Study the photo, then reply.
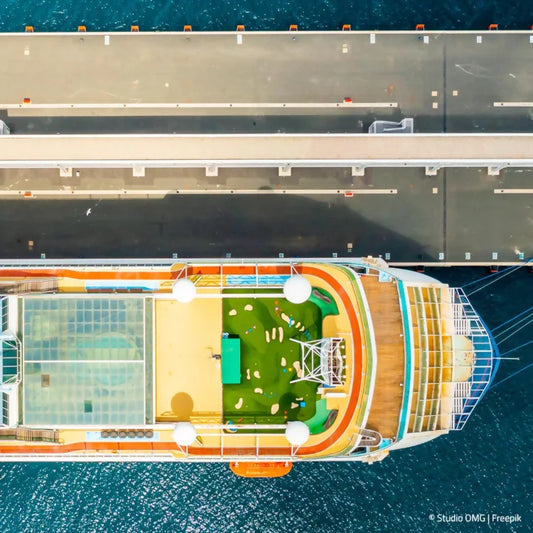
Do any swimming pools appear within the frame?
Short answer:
Yes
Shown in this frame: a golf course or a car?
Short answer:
golf course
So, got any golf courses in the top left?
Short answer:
No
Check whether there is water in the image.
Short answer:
Yes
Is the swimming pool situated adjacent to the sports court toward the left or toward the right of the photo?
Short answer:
left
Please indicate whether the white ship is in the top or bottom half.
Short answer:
bottom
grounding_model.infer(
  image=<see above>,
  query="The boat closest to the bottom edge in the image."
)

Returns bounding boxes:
[228,461,293,479]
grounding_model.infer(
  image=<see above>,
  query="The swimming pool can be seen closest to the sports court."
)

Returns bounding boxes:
[70,336,142,385]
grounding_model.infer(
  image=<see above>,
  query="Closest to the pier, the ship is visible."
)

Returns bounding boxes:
[0,252,521,473]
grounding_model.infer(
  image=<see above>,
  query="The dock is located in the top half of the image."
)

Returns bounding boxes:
[0,24,533,273]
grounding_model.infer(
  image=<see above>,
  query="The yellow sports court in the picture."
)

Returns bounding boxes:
[155,289,223,423]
